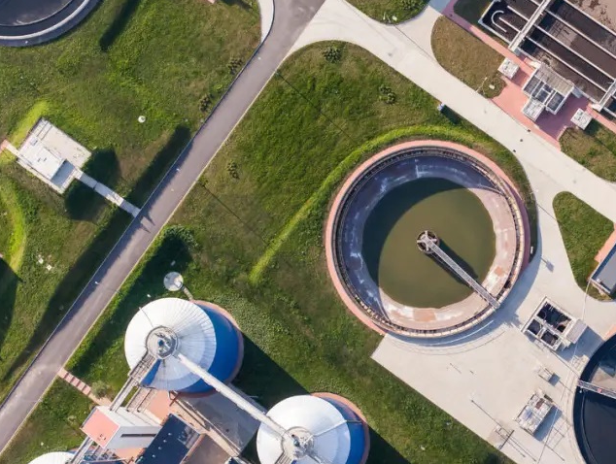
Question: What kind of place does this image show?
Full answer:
The area seen from above is an industrial area.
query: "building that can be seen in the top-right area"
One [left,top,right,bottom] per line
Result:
[522,59,578,121]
